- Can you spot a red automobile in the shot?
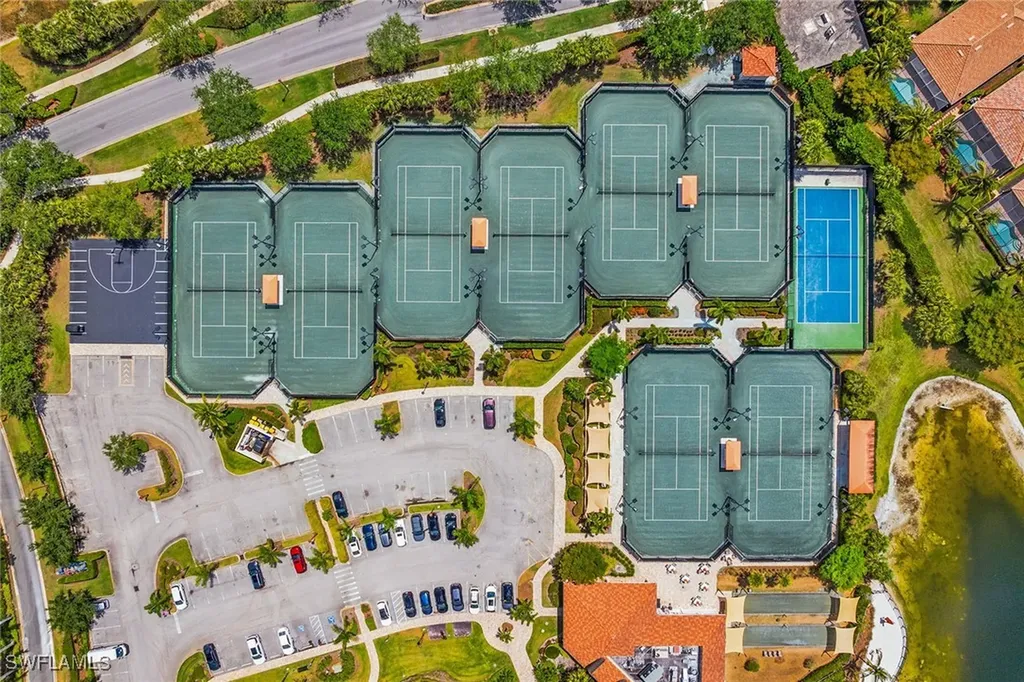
Yes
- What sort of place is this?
sports ground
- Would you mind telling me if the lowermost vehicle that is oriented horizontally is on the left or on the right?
left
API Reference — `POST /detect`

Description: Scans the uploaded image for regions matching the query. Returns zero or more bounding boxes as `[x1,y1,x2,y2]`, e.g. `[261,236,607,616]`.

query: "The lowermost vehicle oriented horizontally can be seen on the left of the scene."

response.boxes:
[83,643,130,664]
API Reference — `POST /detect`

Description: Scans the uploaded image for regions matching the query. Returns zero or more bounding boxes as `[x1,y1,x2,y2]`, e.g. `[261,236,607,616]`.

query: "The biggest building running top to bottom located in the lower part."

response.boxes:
[841,418,874,494]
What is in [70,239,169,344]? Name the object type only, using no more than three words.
basketball court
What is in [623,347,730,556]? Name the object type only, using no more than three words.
tennis court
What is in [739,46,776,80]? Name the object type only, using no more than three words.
shed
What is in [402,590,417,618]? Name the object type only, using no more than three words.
car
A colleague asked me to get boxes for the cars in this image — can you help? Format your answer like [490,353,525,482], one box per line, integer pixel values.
[468,585,481,613]
[434,585,448,614]
[427,512,441,541]
[402,590,417,618]
[444,512,457,540]
[332,489,350,518]
[434,399,446,426]
[419,587,433,615]
[483,399,496,428]
[172,582,189,611]
[362,523,378,551]
[278,625,296,654]
[291,544,307,573]
[376,598,392,627]
[450,582,464,611]
[377,519,393,548]
[345,532,362,559]
[203,641,222,672]
[484,584,497,613]
[411,512,425,541]
[501,581,513,610]
[393,517,408,546]
[246,634,266,664]
[248,560,266,589]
